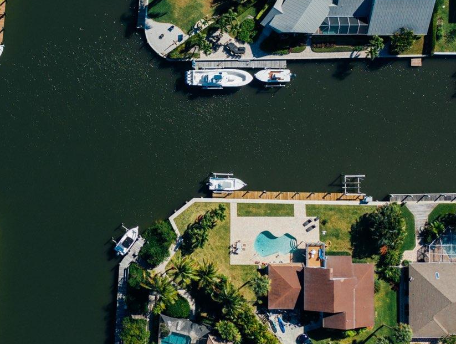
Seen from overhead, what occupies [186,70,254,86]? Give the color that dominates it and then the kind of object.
white boat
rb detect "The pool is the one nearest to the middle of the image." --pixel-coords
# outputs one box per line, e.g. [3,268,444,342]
[252,230,298,258]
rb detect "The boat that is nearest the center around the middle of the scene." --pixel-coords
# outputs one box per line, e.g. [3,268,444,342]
[207,178,248,191]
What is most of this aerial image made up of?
water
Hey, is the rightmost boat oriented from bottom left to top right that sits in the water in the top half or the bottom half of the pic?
bottom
